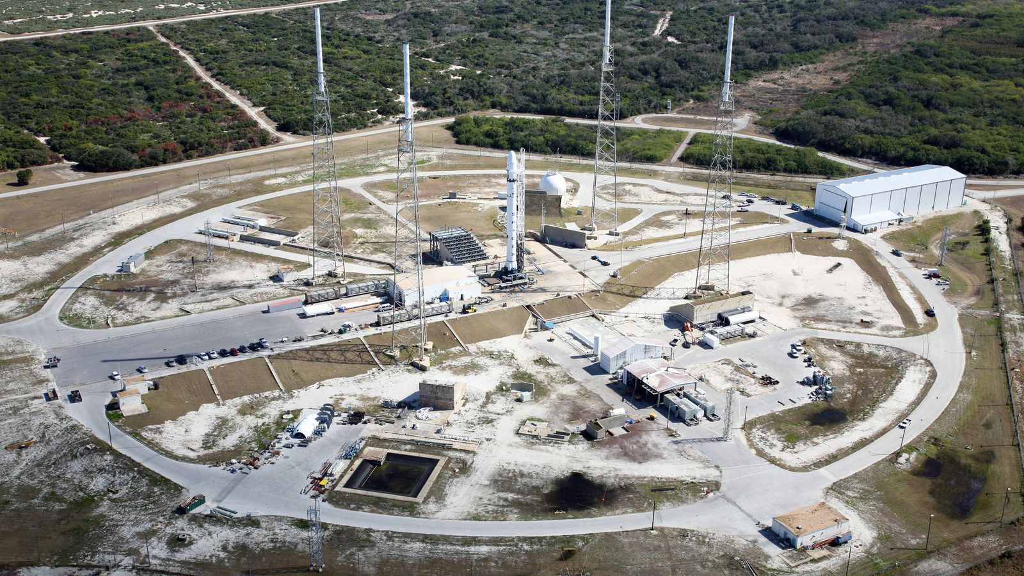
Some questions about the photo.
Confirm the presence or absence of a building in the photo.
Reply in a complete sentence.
Yes, this view includes a building.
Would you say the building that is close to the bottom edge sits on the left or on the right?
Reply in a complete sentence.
The building that is close to the bottom edge appears in the right half of the scene.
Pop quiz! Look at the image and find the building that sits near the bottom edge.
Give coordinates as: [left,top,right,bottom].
[775,501,851,548]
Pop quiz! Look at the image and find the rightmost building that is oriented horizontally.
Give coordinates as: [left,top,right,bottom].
[818,164,968,233]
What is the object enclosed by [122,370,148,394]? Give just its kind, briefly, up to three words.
building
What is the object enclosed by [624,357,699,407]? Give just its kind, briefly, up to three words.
shed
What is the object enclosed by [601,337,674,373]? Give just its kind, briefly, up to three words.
building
